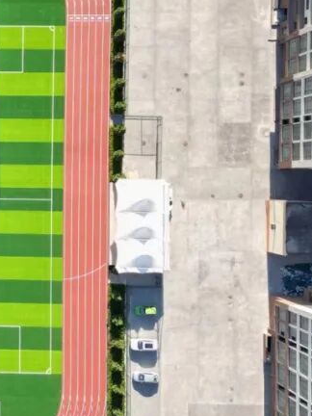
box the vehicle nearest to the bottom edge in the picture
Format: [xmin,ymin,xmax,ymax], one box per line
[133,372,161,385]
